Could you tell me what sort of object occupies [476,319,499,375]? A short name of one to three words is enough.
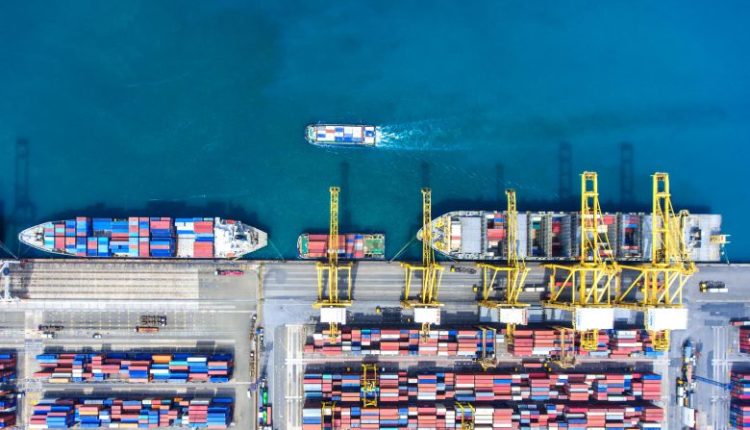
container crane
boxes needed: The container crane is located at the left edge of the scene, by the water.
[0,262,32,306]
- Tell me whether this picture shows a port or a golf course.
port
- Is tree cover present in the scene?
No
